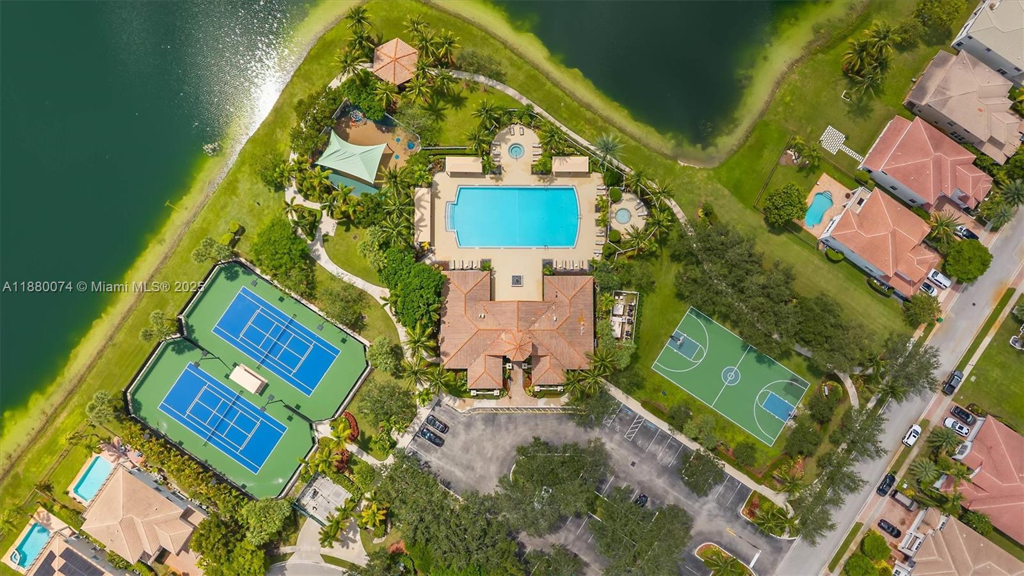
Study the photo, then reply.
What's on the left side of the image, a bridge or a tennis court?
tennis court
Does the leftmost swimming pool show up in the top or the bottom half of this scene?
bottom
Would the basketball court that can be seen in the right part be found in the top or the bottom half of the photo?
bottom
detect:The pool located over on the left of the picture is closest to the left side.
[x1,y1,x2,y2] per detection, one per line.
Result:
[8,522,51,570]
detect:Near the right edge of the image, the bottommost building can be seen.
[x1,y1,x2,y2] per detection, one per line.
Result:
[890,504,1024,576]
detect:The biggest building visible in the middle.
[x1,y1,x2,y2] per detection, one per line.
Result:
[442,271,594,389]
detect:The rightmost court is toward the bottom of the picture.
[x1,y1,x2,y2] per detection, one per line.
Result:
[651,306,810,447]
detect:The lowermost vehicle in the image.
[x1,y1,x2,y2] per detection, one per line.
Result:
[877,518,901,539]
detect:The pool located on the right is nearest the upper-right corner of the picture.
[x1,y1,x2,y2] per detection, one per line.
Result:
[805,190,834,229]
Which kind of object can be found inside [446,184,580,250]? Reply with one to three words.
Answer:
swimming pool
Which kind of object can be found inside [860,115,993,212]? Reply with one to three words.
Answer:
house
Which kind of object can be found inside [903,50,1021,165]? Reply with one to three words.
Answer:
house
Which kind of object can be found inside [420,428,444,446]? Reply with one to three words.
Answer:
car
